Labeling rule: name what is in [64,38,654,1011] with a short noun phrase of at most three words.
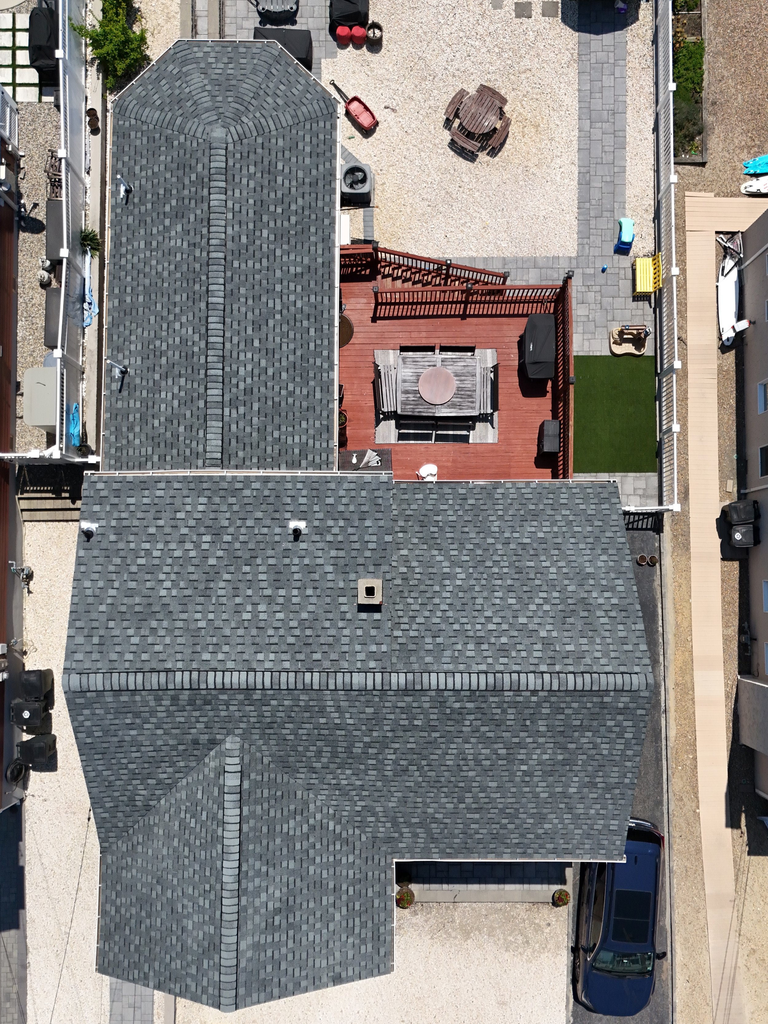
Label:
house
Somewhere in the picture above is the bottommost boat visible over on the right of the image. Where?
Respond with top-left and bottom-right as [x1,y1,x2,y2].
[715,251,742,347]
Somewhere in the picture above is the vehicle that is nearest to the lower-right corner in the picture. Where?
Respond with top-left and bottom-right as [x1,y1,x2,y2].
[571,815,669,1013]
